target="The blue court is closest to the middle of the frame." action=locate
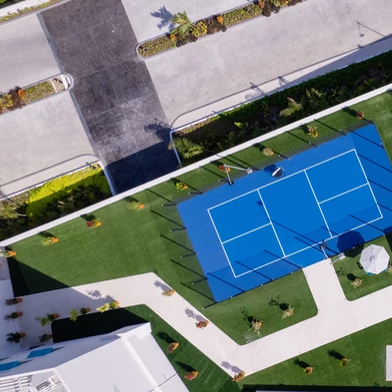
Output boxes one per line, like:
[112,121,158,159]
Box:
[177,123,392,302]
